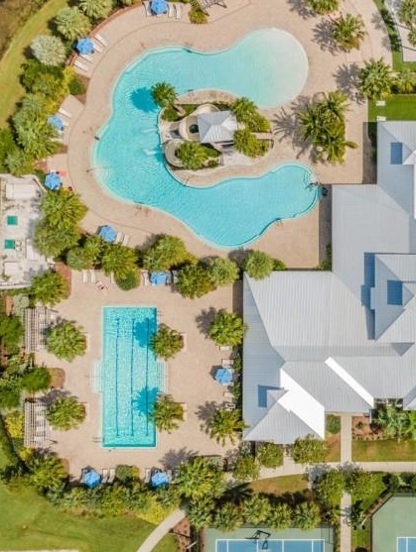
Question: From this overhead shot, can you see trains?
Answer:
No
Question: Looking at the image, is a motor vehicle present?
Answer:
No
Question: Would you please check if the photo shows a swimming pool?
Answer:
Yes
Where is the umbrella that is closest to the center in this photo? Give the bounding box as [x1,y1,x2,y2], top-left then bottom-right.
[151,270,168,287]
